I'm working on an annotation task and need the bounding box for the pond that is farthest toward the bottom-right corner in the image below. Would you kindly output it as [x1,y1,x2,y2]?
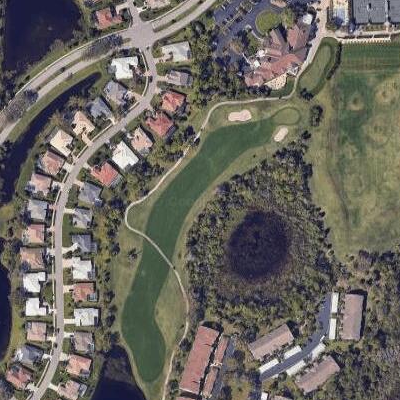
[229,211,289,278]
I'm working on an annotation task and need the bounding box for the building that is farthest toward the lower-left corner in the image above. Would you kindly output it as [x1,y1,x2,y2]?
[8,363,31,390]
